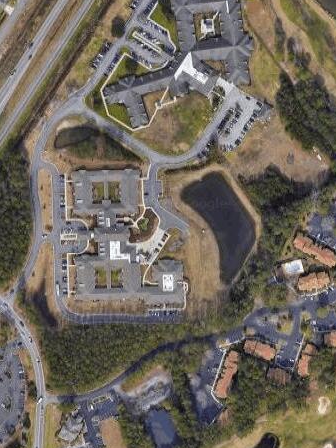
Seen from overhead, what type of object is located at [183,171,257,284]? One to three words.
pond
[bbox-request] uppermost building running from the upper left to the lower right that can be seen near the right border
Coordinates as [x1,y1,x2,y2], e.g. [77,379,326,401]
[291,230,336,269]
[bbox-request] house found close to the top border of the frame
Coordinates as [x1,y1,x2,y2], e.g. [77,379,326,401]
[105,0,255,129]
